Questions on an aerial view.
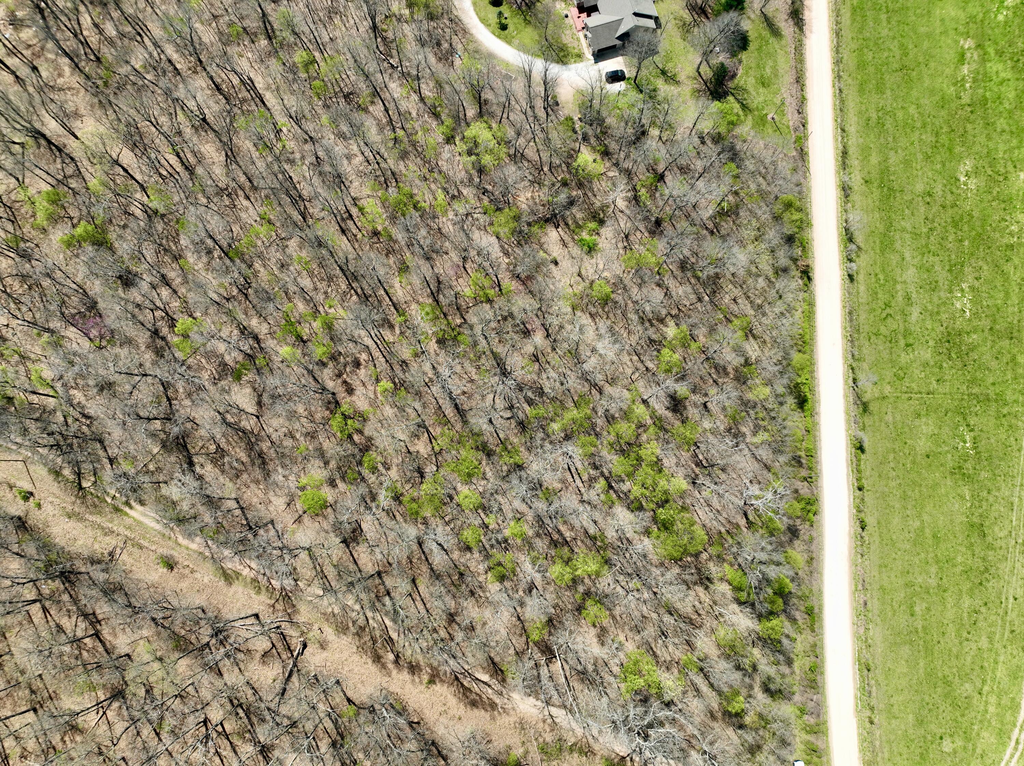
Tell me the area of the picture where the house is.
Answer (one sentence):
Look in the top portion of the view to spot the house.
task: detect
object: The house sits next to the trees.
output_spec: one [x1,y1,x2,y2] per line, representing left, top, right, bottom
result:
[570,0,658,55]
